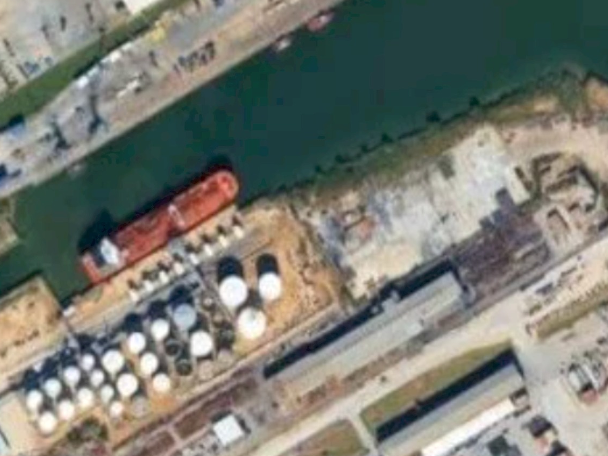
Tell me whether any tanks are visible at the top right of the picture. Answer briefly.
No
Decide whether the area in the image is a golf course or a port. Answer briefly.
port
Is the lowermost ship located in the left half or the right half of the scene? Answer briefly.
left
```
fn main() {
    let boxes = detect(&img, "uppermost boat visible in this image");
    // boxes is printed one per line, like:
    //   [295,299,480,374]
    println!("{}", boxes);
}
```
[306,15,330,32]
